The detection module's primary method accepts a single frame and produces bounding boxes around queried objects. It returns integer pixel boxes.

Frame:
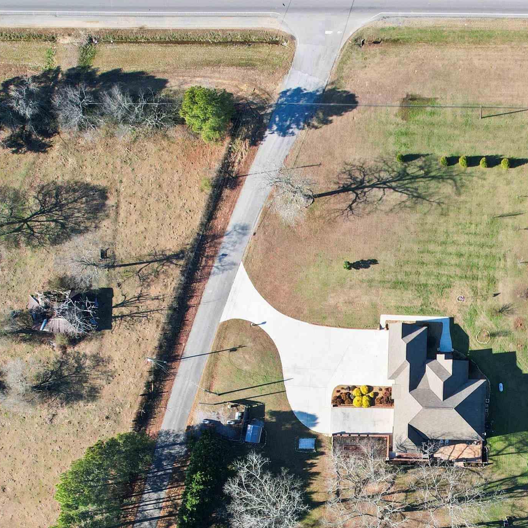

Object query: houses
[388,321,486,451]
[26,287,104,333]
